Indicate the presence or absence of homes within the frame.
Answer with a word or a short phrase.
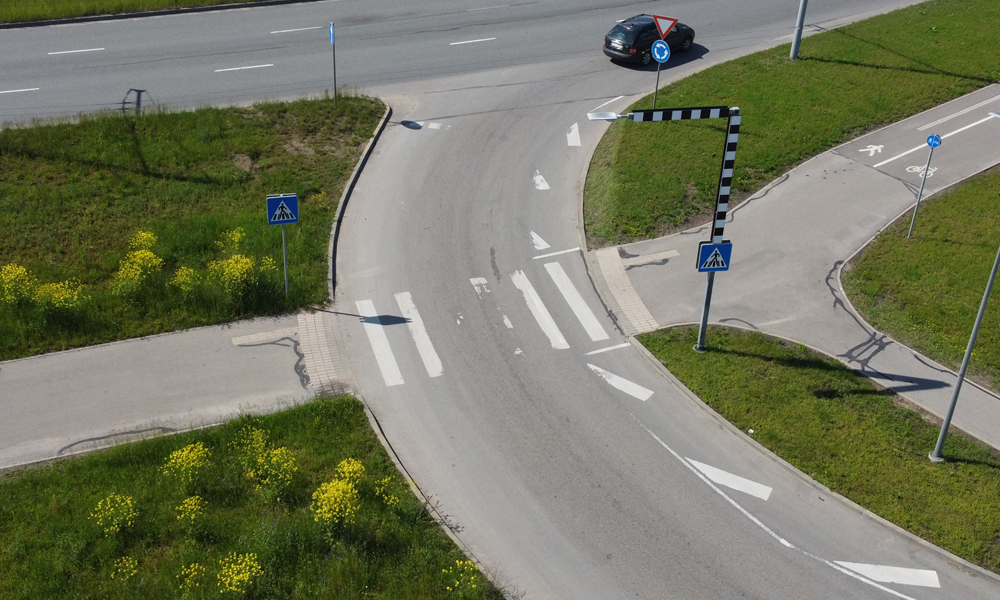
No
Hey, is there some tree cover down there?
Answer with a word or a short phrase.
No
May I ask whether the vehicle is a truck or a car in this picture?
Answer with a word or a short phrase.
car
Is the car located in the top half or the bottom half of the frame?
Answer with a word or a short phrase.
top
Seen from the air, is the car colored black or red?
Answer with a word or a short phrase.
black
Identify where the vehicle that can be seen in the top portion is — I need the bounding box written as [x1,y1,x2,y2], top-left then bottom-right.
[602,12,696,64]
